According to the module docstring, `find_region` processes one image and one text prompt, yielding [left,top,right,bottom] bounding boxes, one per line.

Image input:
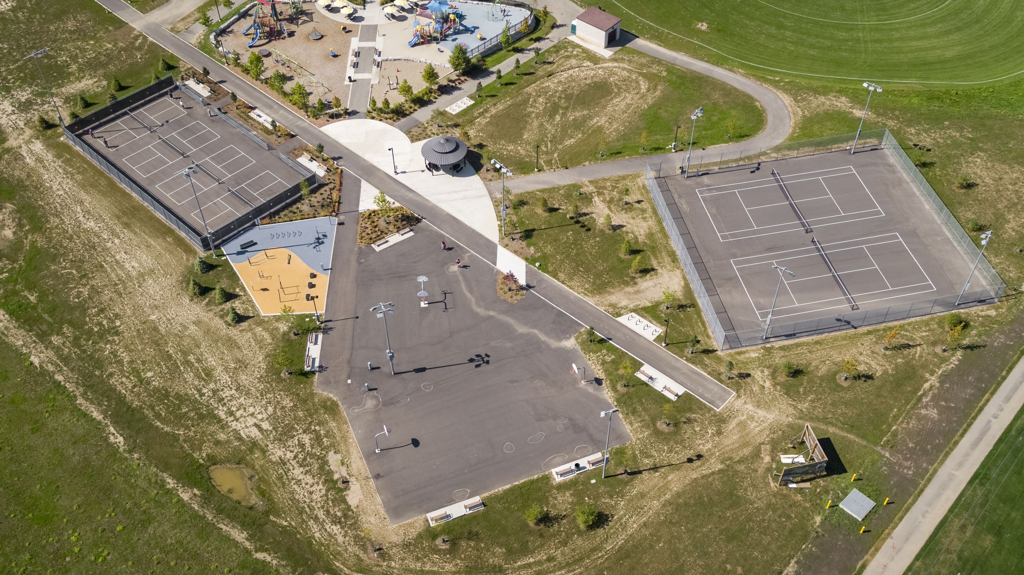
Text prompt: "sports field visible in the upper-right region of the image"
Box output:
[605,0,1024,89]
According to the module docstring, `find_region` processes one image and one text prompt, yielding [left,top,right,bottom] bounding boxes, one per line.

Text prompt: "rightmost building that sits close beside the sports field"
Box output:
[575,3,624,48]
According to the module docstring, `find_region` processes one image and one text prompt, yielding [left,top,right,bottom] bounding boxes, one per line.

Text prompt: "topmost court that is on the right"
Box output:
[645,143,939,257]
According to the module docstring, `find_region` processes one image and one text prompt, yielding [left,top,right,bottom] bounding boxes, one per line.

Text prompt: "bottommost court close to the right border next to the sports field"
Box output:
[679,216,1001,352]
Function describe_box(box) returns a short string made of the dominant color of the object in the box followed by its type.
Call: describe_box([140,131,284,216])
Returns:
gray sports court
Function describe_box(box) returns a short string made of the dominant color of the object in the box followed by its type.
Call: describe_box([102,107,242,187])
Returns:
gray sports court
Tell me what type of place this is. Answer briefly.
sports ground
